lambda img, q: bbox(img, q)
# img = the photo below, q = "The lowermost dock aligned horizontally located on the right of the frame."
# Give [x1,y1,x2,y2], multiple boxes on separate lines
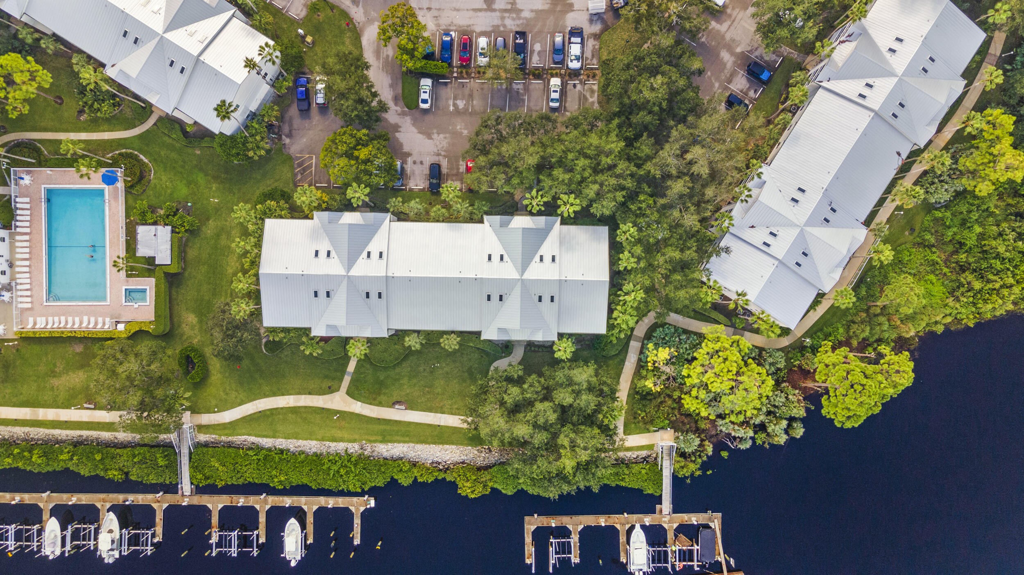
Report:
[525,513,722,564]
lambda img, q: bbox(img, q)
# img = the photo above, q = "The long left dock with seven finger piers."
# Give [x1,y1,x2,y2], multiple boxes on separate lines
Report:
[0,494,374,544]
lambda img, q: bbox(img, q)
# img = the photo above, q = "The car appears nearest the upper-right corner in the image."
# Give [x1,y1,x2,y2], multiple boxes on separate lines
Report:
[743,60,772,84]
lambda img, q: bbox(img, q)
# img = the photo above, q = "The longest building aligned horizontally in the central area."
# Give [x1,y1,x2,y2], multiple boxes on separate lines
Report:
[259,197,611,356]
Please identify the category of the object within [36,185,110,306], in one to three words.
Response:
swimming pool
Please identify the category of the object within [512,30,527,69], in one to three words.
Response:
vehicle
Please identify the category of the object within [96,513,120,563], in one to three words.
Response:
boat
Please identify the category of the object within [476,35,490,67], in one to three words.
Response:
car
